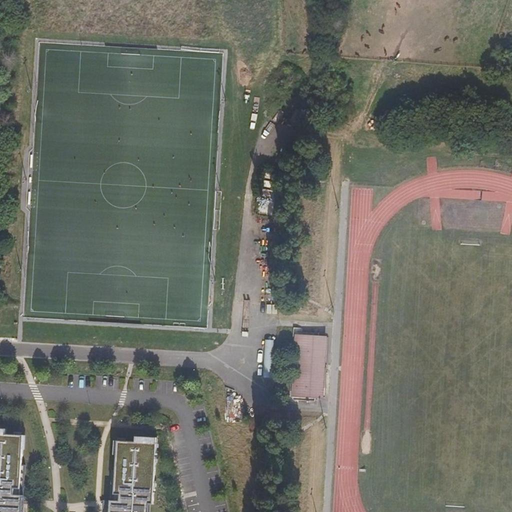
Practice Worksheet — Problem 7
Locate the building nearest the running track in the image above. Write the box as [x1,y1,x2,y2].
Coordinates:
[292,328,328,400]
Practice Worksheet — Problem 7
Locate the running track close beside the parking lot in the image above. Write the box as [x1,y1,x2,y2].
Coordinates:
[332,157,512,512]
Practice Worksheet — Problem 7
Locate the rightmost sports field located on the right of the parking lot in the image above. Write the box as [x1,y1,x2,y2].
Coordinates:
[357,188,512,512]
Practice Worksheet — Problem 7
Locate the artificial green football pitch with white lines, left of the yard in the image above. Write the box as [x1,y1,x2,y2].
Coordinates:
[24,42,221,328]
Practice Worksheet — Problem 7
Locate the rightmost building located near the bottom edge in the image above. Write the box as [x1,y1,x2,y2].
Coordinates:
[104,438,158,512]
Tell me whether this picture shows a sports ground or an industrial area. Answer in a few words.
sports ground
